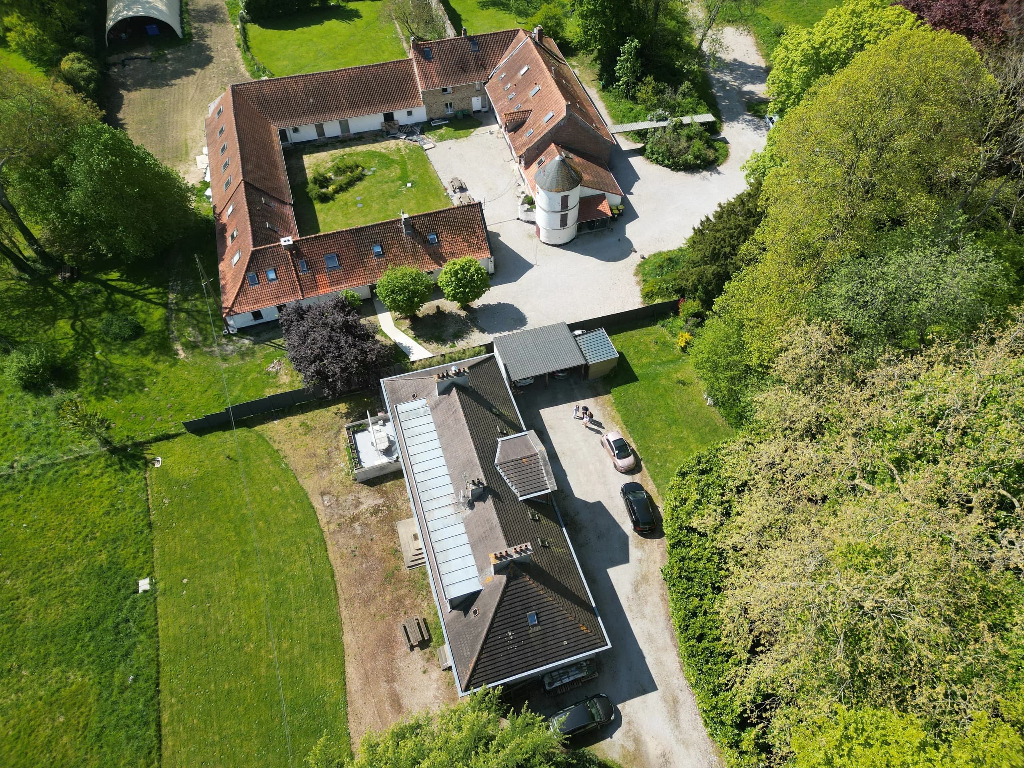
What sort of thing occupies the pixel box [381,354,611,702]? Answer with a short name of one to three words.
house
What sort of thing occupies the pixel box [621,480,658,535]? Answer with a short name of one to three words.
car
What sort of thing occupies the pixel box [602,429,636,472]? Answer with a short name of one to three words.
car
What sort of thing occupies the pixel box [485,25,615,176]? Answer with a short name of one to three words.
barn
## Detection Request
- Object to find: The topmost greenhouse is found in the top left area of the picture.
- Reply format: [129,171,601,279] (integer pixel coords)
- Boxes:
[103,0,182,46]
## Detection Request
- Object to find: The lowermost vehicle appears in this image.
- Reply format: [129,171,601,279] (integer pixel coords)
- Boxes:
[549,694,617,742]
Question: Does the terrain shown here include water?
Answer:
No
